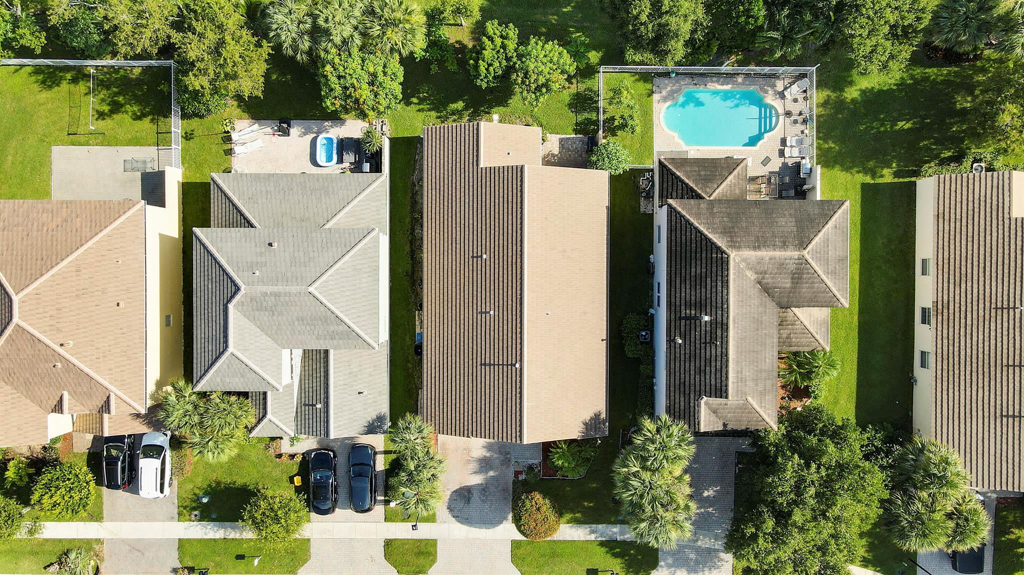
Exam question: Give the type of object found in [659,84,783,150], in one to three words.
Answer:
swimming pool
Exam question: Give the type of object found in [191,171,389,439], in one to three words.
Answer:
house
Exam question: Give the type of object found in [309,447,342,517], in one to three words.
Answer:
car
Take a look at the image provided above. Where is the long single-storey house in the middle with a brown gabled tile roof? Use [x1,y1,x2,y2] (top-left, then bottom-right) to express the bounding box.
[423,122,611,444]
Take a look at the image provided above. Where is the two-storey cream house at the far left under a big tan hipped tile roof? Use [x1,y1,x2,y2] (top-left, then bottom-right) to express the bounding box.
[0,199,182,447]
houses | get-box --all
[915,172,1024,490]
[191,171,389,439]
[0,199,182,447]
[652,149,851,435]
[423,122,611,444]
